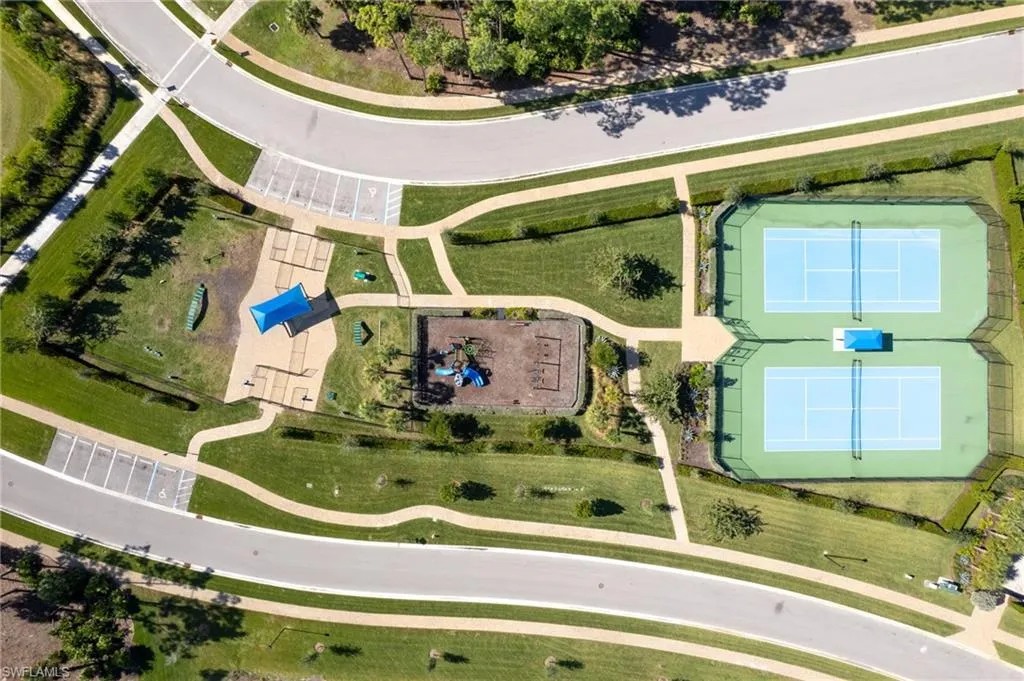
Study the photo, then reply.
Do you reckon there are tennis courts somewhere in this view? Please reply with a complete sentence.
Yes, the image includes a tennis court.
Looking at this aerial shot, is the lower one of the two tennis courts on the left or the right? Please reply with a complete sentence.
It is on the right.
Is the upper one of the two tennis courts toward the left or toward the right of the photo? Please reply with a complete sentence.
The upper one of the two tennis courts appears in the right half of the scene.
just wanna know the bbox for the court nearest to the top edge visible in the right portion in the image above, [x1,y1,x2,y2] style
[718,203,988,340]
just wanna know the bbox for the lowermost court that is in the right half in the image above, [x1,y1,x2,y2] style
[718,340,989,479]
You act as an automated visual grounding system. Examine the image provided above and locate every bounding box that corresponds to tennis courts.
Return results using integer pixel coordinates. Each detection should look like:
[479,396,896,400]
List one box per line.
[718,203,988,340]
[718,340,989,479]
